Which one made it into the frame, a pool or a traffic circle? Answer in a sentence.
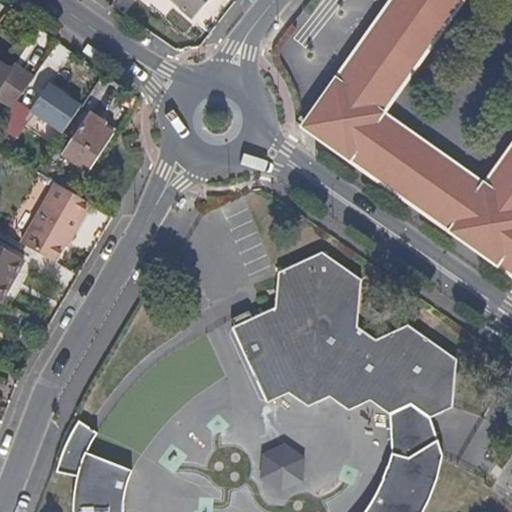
Visible in the photo is a traffic circle.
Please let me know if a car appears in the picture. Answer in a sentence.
Yes, there's a car down there.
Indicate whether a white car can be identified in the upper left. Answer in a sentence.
Yes, a white car can be seen in the upper left.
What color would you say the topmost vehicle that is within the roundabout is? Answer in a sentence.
The color of the topmost vehicle that is within the roundabout is white.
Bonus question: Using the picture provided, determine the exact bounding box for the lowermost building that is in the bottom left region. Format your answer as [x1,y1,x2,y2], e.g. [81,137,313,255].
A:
[74,452,131,512]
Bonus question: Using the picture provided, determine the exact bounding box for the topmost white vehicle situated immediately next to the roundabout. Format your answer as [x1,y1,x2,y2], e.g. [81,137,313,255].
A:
[130,64,150,82]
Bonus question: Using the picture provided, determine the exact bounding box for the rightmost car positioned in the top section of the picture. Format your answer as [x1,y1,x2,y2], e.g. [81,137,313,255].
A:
[353,194,376,214]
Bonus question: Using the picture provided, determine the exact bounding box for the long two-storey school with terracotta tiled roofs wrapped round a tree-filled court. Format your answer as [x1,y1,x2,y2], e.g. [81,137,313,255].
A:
[302,0,512,278]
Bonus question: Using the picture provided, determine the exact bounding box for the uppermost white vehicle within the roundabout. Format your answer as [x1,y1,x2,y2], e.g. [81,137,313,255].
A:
[166,110,189,138]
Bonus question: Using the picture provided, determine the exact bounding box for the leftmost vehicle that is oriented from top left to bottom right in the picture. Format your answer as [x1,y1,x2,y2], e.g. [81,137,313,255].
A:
[58,62,74,82]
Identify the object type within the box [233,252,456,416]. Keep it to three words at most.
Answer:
building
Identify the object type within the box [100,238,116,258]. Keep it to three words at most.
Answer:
car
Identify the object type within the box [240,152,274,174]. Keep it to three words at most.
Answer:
truck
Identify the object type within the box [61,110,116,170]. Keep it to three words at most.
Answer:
house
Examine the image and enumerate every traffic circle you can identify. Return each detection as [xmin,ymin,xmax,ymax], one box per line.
[147,46,290,188]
